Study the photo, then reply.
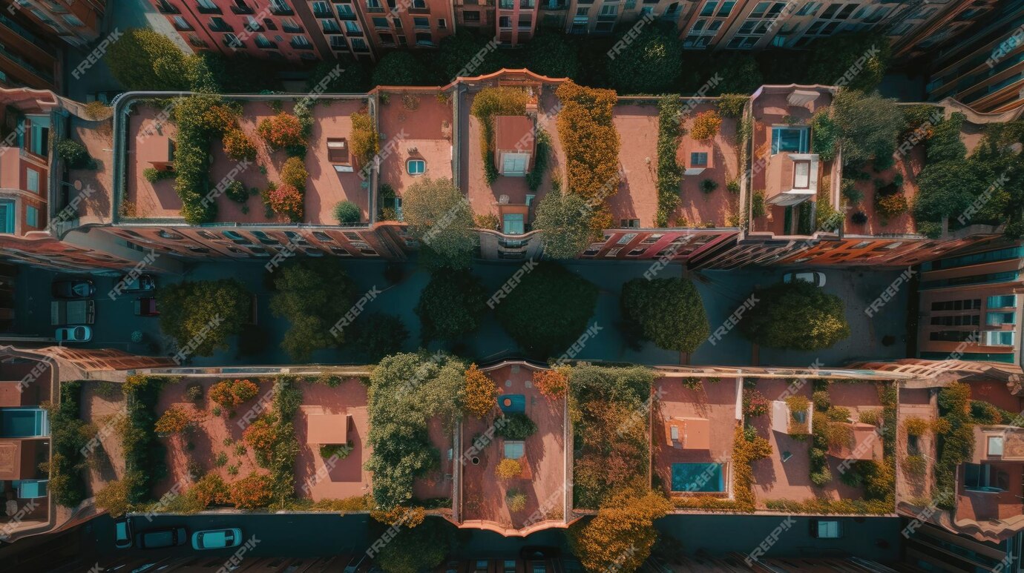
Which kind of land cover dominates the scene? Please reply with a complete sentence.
The scene is dominated by buildings.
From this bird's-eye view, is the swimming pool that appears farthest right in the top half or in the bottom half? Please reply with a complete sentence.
You can find the swimming pool that appears farthest right in the bottom half.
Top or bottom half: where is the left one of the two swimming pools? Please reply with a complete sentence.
It is in the bottom half that the left one of the two swimming pools appears.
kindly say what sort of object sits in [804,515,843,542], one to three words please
vehicle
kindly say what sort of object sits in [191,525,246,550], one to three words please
car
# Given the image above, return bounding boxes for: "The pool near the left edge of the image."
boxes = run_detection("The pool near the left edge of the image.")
[0,404,45,436]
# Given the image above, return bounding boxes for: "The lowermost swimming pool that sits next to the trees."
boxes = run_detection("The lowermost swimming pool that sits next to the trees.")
[667,460,730,497]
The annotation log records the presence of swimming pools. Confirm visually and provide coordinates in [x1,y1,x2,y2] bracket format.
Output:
[667,460,730,497]
[0,404,45,436]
